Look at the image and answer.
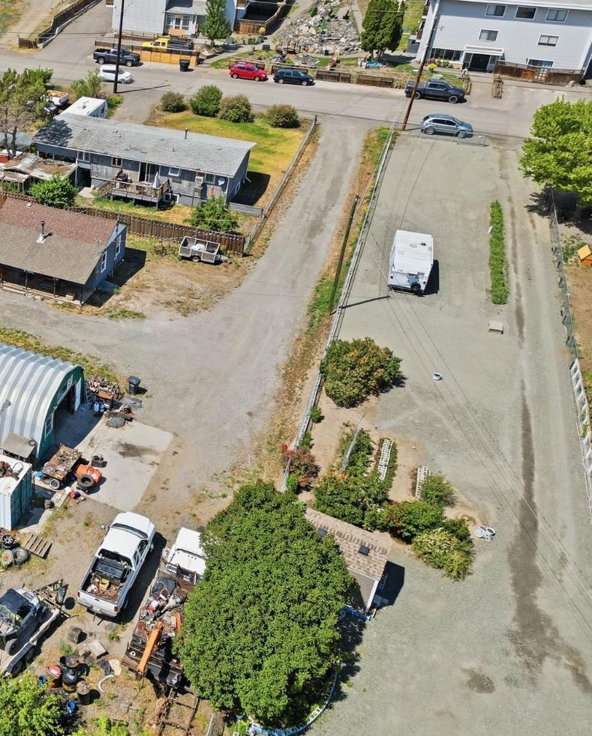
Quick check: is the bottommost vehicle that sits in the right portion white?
Yes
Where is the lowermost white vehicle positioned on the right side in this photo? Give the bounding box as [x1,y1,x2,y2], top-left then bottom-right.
[387,237,430,299]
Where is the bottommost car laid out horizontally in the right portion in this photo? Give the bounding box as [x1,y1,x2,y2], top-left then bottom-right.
[421,115,470,138]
